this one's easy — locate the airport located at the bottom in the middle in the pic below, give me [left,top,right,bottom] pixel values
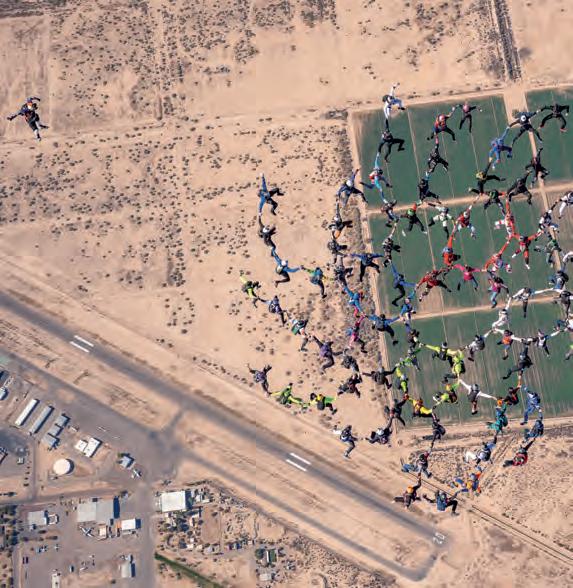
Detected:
[0,291,454,579]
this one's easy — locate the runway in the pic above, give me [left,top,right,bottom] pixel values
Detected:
[0,291,454,553]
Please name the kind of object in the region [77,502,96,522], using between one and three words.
hangar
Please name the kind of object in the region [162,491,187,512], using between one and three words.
hangar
